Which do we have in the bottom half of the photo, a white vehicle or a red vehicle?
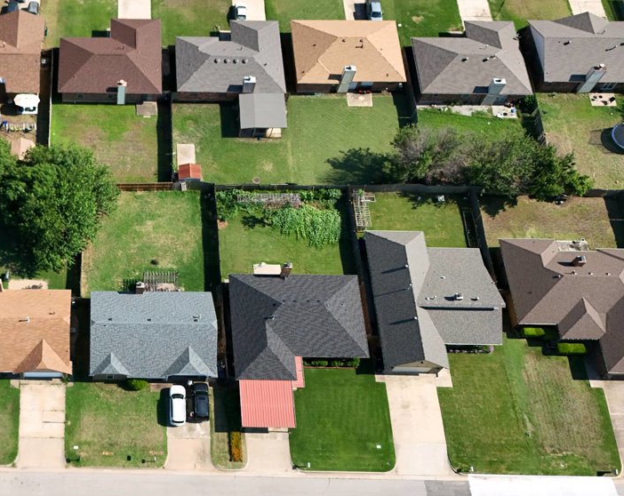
white vehicle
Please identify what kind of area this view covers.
residential area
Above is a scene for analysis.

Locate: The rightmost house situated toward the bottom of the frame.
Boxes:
[494,239,624,381]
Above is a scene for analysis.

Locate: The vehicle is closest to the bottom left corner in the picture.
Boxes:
[168,388,186,425]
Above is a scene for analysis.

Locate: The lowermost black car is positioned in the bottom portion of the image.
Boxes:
[192,382,210,419]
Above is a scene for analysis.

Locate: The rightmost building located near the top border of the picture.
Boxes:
[522,10,624,96]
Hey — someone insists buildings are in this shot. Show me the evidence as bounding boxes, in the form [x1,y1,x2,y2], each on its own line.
[0,277,73,382]
[291,20,406,98]
[176,20,285,104]
[58,18,161,107]
[522,10,624,96]
[363,231,505,376]
[229,262,370,387]
[0,8,45,106]
[178,162,201,187]
[85,280,218,386]
[494,239,624,381]
[408,20,533,108]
